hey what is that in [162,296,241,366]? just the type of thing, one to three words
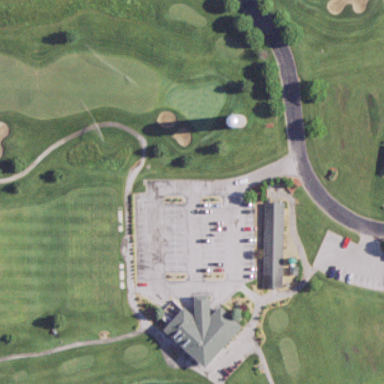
building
